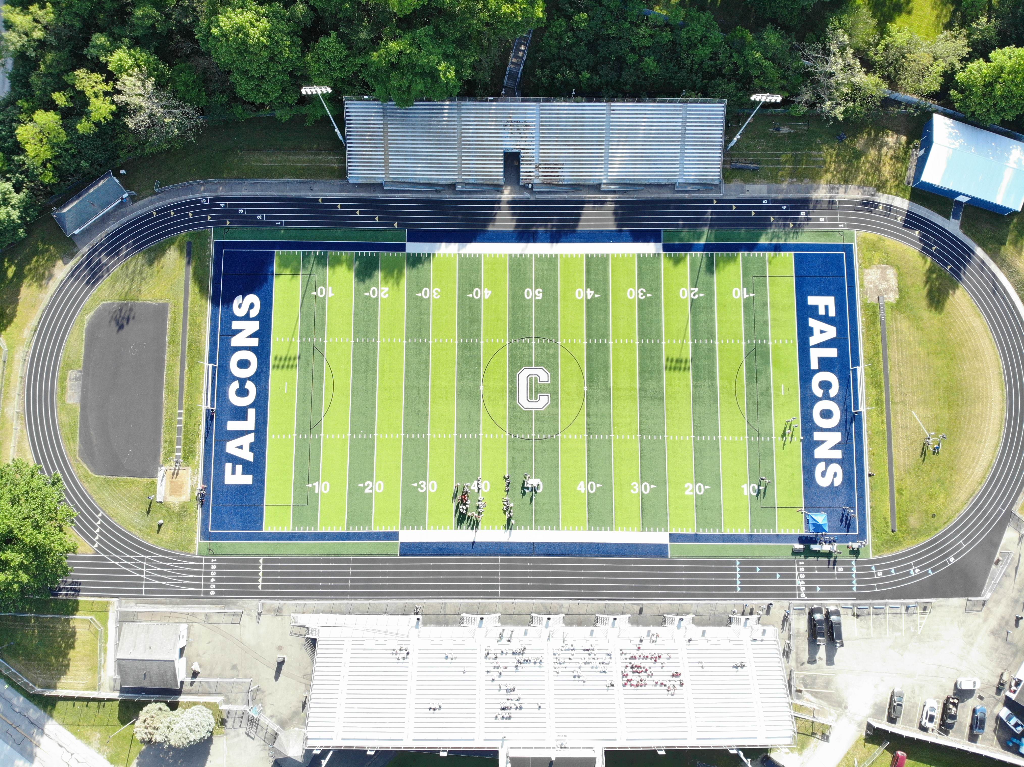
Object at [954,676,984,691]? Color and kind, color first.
white car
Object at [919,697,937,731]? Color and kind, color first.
white car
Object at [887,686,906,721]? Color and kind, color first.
gray car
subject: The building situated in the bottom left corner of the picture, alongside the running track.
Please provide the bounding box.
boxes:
[114,621,197,688]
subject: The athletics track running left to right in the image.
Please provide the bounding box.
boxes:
[26,196,1024,600]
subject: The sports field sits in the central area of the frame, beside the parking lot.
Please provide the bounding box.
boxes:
[195,229,874,558]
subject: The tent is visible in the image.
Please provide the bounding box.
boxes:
[804,511,828,532]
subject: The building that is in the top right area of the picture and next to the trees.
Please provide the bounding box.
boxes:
[912,113,1024,219]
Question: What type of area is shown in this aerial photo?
sports ground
